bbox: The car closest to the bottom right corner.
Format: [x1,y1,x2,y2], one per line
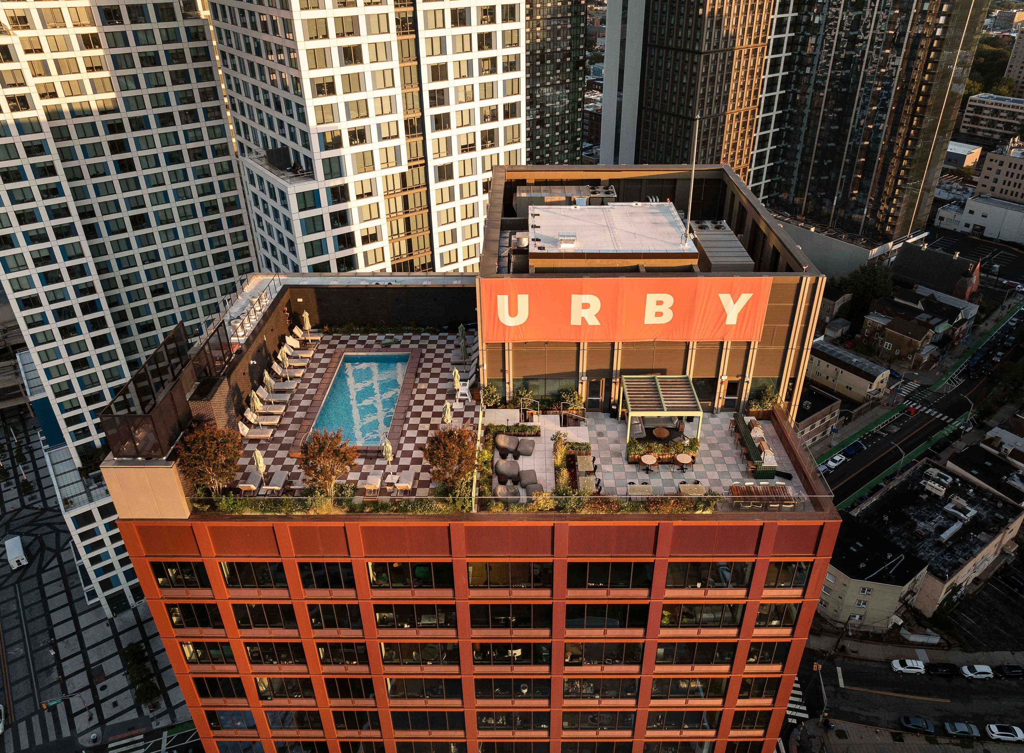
[983,721,1024,742]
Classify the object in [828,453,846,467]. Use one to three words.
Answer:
car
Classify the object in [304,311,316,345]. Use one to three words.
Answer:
umbrella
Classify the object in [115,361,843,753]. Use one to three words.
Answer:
building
